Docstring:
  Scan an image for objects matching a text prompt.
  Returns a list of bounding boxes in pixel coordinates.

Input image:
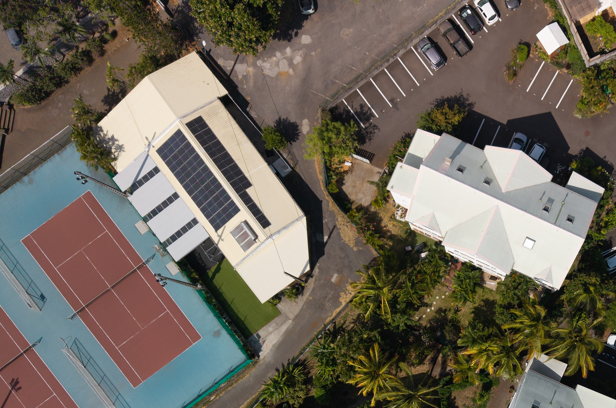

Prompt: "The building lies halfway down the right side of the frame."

[386,128,605,290]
